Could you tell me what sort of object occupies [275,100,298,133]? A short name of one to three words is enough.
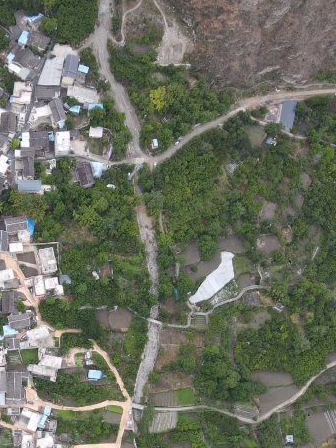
shed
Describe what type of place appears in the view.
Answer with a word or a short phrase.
residential area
